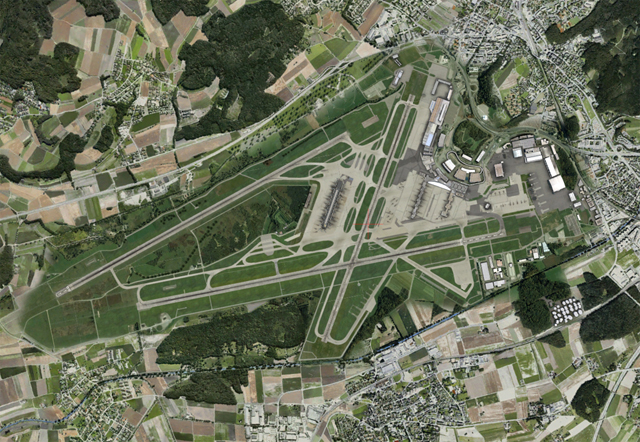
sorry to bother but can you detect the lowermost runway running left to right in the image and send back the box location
[138,230,506,307]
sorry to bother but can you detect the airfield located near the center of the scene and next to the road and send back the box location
[5,42,591,359]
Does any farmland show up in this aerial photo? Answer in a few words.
Yes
